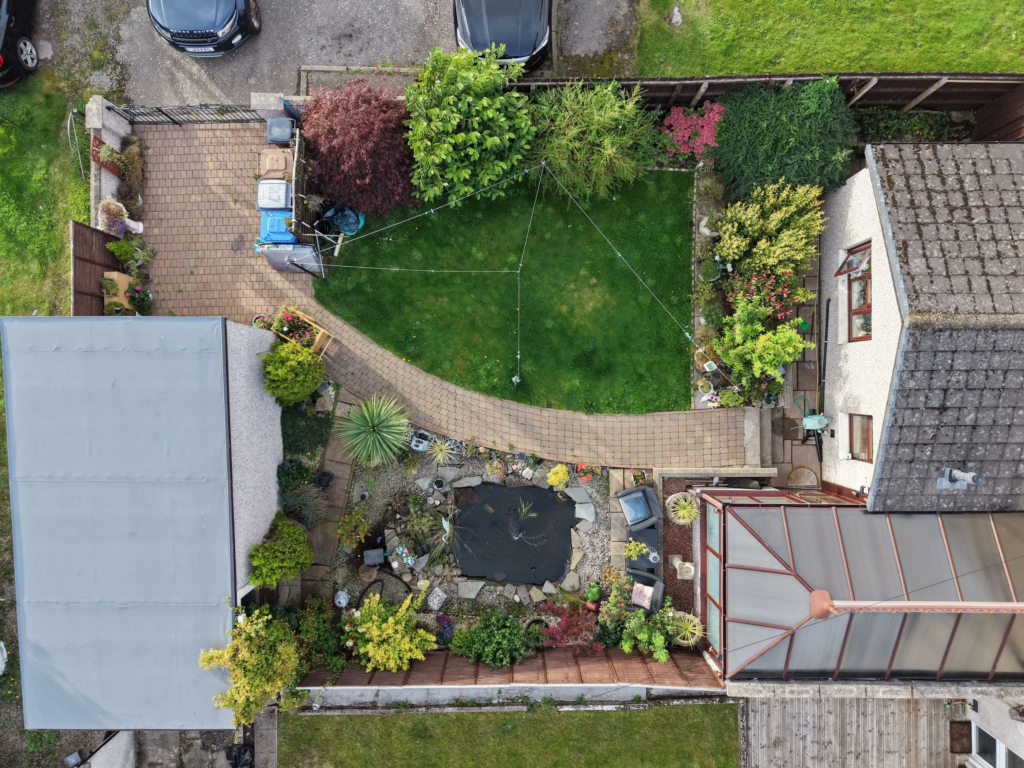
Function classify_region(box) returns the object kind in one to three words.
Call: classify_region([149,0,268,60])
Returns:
car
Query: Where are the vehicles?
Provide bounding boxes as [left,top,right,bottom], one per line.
[0,0,41,99]
[149,0,268,60]
[452,0,553,78]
